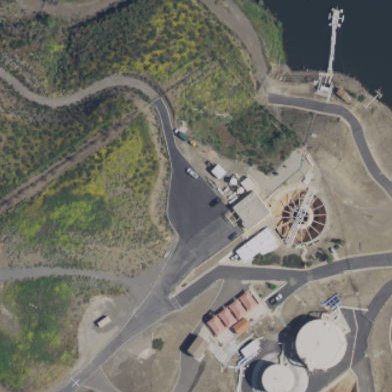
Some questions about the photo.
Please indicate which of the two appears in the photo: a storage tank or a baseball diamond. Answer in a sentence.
Looking from above, you can make out a storage tank.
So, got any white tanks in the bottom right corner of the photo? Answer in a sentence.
Yes, a white tank is visible in the bottom right corner of the photo.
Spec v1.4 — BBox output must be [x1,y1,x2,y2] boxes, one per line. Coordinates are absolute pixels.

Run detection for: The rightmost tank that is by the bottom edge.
[296,320,350,374]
